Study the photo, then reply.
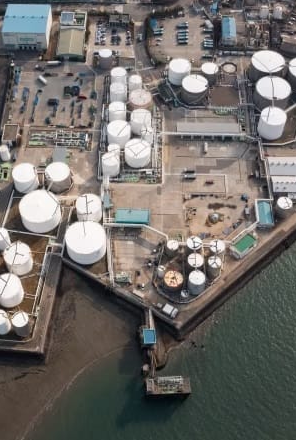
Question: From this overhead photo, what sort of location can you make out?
industrial area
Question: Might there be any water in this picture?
Yes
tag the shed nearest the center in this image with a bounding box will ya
[116,208,150,225]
